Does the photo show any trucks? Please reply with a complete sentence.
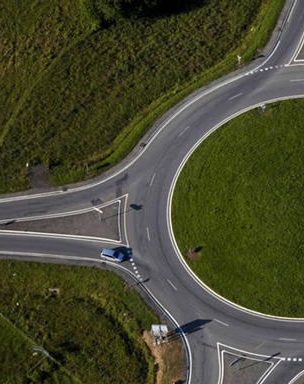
No, the scene contains no truck.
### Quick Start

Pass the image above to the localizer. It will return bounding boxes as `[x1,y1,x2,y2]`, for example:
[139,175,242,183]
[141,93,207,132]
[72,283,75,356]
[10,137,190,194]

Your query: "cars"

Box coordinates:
[99,246,125,263]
